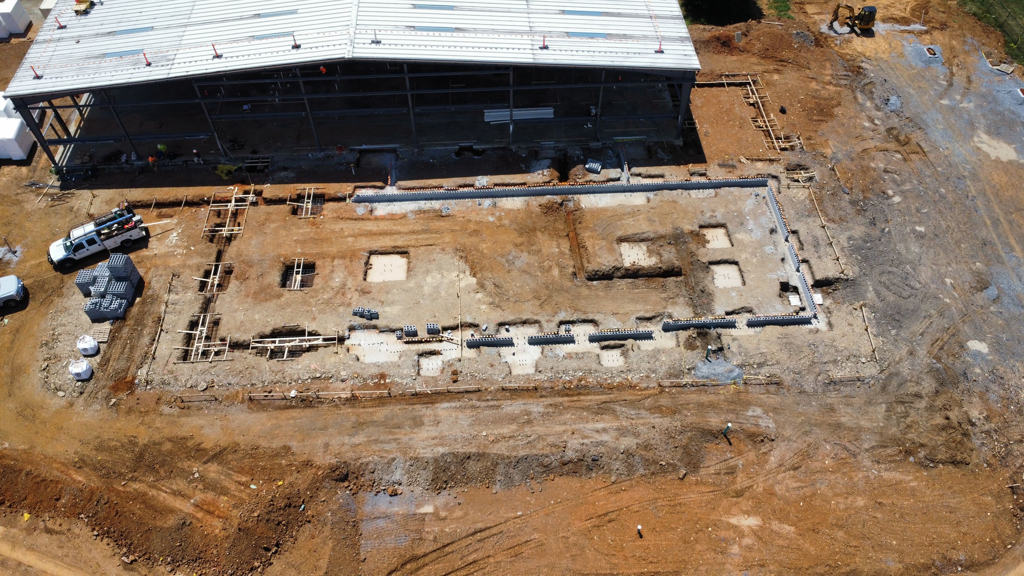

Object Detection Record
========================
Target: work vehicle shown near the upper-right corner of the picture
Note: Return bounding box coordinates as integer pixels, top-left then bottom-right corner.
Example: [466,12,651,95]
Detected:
[826,3,879,40]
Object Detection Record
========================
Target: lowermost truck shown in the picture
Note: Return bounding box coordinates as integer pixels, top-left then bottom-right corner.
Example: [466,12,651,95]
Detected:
[0,280,30,311]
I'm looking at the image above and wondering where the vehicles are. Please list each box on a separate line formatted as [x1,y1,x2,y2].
[826,3,879,40]
[0,280,30,311]
[41,204,151,269]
